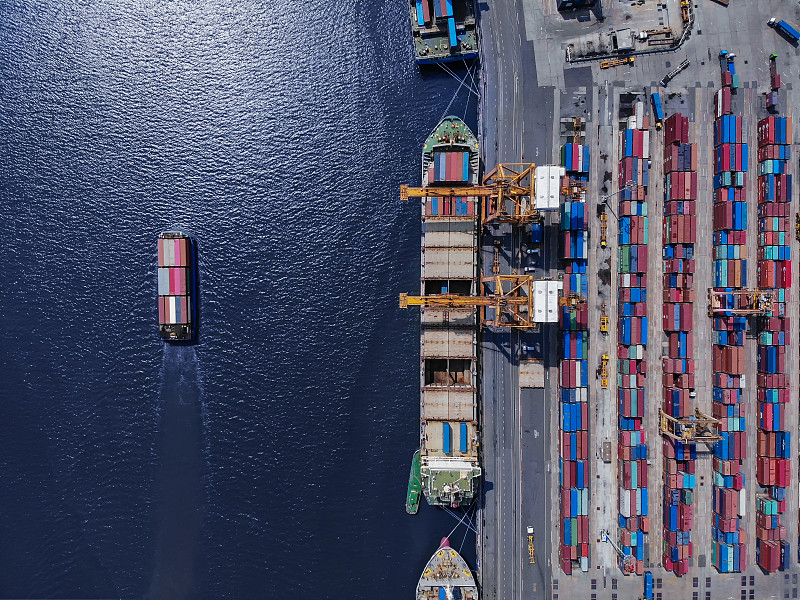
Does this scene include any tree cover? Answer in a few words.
No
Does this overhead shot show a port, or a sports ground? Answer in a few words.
port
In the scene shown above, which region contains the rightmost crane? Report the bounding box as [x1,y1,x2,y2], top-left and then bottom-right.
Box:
[710,288,777,316]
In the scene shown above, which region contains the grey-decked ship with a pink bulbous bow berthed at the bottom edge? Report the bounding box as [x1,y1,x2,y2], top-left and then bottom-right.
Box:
[416,535,479,600]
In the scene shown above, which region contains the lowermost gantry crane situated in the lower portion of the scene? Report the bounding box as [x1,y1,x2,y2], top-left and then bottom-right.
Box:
[662,409,726,442]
